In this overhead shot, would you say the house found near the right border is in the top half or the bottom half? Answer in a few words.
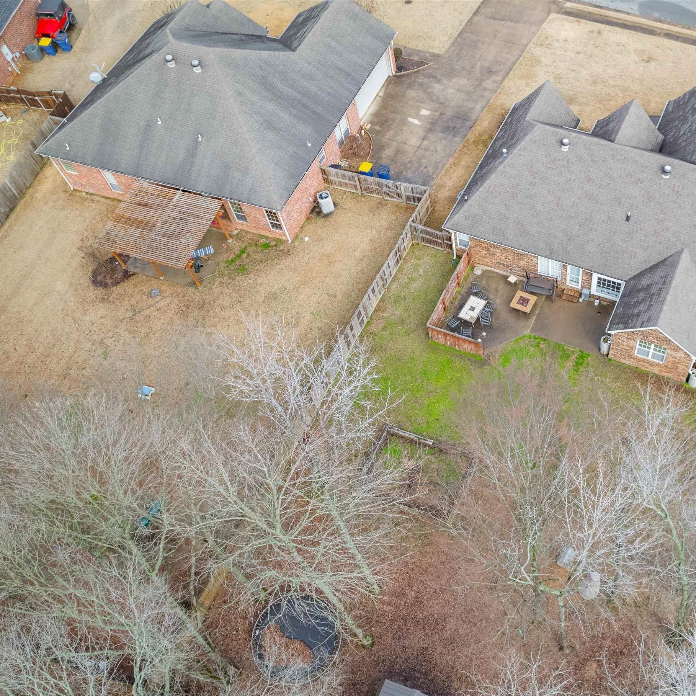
top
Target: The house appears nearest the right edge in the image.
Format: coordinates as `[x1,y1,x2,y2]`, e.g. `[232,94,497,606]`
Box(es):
[443,79,696,380]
